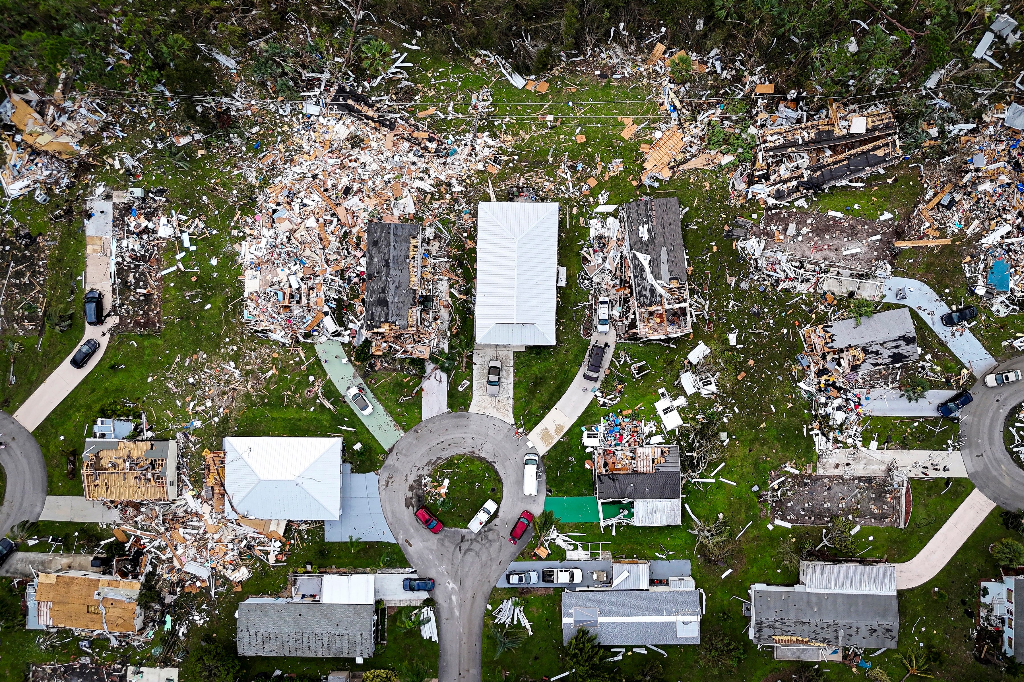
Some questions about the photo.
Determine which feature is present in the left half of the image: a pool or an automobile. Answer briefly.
automobile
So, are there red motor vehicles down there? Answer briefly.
Yes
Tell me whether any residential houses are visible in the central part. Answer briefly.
Yes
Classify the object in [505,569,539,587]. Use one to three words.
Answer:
car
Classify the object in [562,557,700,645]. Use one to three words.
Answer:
house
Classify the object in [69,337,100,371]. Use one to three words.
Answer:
car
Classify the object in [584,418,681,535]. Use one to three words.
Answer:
house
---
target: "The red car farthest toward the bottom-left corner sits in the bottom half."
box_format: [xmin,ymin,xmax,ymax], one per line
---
[412,505,444,535]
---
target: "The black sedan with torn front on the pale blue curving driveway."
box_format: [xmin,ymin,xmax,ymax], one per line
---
[939,306,978,326]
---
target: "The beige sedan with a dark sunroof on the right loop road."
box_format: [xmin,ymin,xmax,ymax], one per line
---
[983,369,1023,387]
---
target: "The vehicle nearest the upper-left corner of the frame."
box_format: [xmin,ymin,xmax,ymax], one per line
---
[83,290,104,326]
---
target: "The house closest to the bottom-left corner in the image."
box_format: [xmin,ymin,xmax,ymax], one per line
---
[26,554,150,646]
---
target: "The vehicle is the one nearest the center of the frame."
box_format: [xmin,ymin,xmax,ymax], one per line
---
[486,359,502,397]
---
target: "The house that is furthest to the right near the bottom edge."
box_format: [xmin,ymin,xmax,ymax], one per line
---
[979,571,1024,664]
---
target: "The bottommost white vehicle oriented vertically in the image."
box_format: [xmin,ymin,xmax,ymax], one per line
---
[522,453,542,497]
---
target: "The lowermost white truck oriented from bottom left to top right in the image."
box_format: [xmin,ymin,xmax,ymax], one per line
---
[466,498,497,536]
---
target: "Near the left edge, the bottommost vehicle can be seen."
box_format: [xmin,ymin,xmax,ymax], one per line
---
[0,534,21,568]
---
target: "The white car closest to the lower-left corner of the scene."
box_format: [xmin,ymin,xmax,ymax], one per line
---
[348,385,374,417]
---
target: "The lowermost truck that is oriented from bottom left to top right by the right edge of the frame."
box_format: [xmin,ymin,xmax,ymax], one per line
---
[934,387,975,420]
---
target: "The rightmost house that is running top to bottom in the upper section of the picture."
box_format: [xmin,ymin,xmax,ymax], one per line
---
[623,197,692,340]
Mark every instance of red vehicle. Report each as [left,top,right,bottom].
[505,508,534,547]
[412,505,444,535]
